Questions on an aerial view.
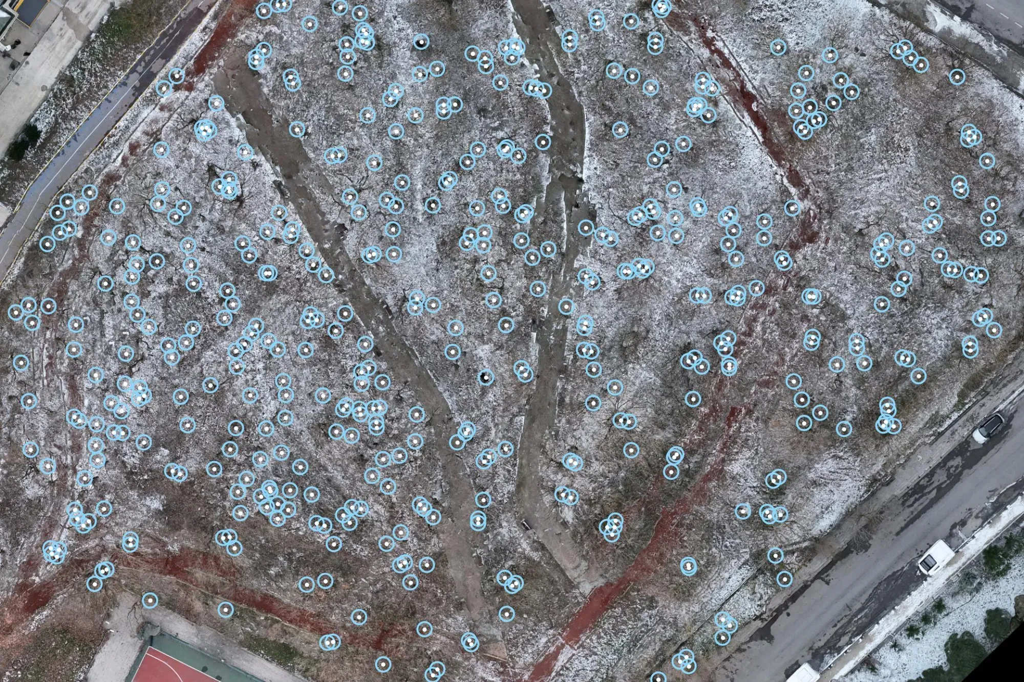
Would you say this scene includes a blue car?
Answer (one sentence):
No, no blue car is visible in the view.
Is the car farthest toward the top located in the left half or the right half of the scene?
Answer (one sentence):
The car farthest toward the top is on the right side of the image.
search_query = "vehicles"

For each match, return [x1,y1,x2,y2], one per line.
[972,412,1005,444]
[781,661,819,682]
[915,537,957,576]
